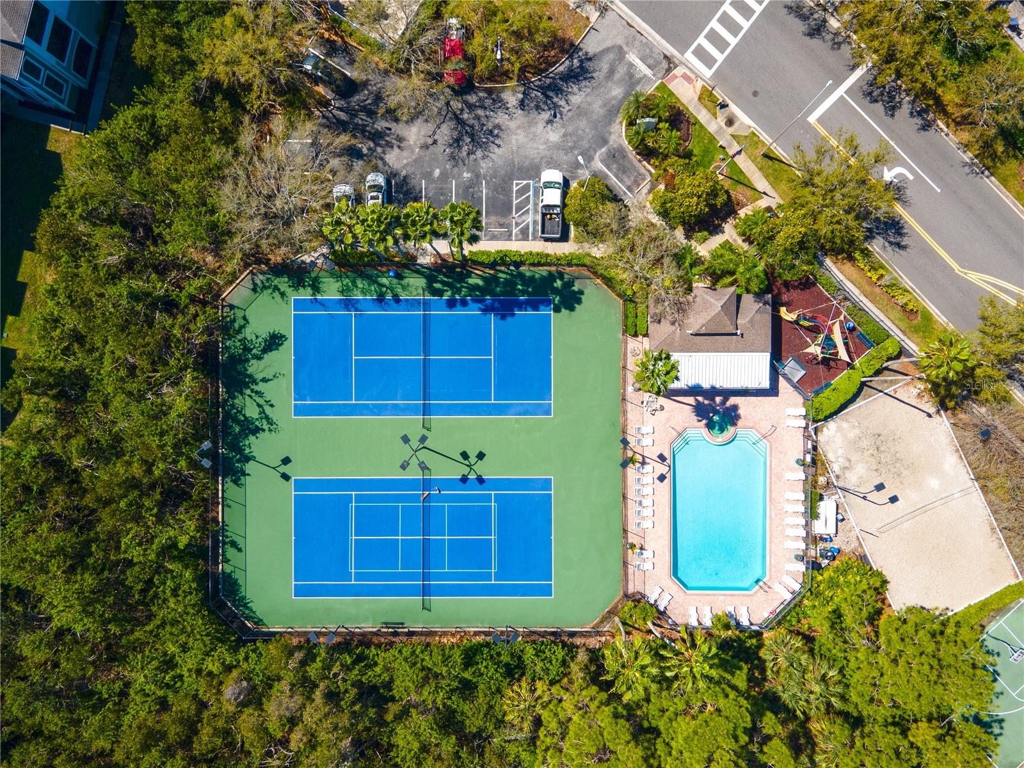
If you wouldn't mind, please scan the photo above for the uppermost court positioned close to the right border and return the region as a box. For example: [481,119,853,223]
[813,378,1024,617]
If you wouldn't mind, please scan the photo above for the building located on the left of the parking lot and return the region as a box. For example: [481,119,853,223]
[0,0,125,113]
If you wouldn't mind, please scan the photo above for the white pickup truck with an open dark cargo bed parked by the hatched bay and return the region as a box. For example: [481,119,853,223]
[538,171,566,239]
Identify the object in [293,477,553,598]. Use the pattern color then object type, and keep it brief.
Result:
blue tennis court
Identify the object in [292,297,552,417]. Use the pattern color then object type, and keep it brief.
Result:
blue tennis court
